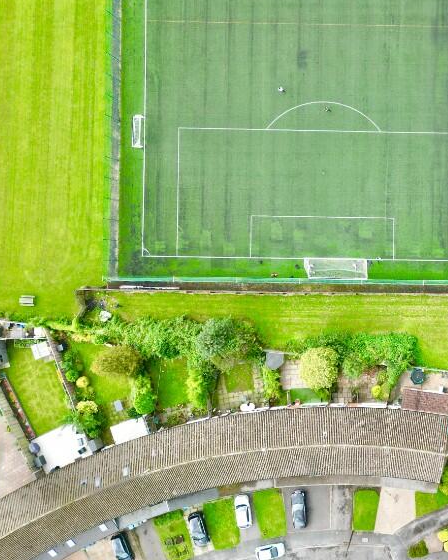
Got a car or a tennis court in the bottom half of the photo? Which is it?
car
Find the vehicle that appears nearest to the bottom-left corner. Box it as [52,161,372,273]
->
[111,532,134,560]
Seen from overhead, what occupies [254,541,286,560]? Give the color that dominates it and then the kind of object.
white car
